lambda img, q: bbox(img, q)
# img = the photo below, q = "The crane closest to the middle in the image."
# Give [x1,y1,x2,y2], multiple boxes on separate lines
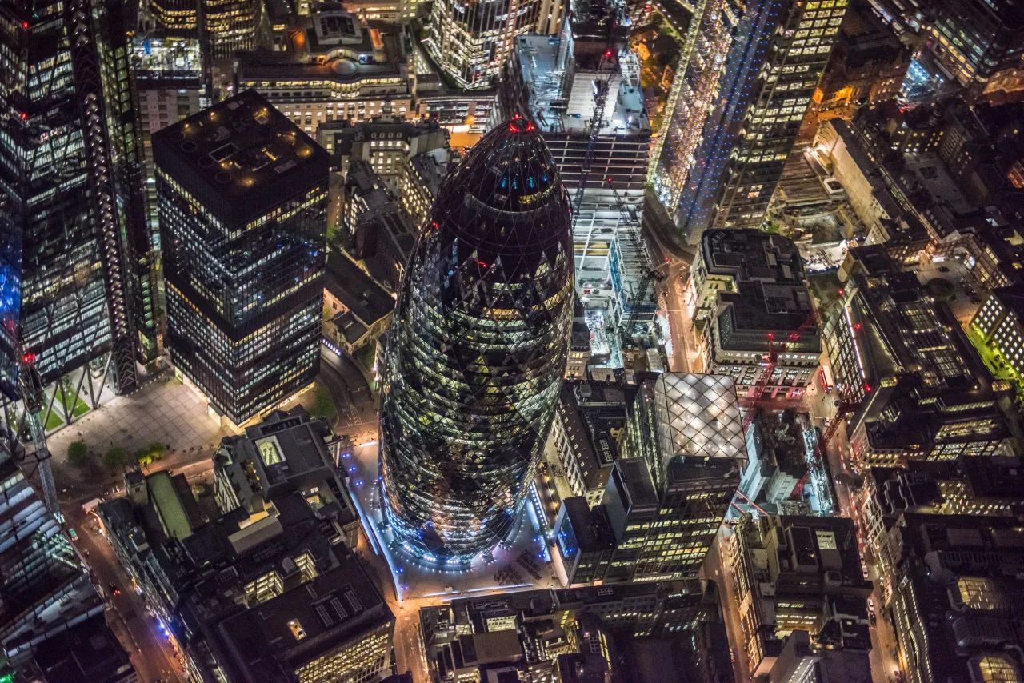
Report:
[605,179,668,333]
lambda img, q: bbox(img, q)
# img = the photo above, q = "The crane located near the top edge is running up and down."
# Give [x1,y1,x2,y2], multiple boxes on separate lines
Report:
[583,13,618,121]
